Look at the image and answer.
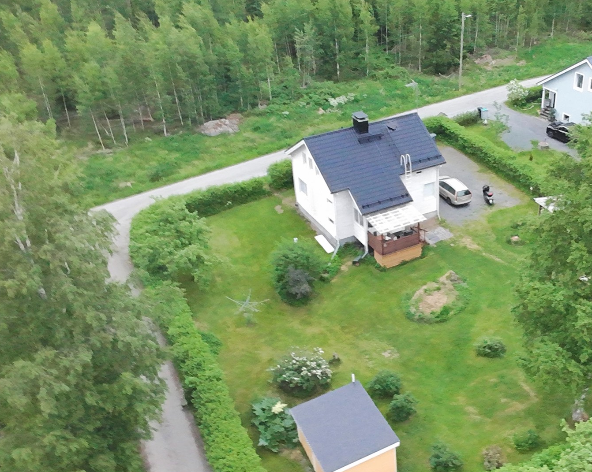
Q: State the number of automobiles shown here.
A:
2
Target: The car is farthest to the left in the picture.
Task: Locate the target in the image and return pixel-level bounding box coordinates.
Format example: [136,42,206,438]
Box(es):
[438,179,471,205]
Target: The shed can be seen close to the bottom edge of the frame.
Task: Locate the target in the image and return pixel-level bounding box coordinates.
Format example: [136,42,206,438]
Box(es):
[288,378,403,472]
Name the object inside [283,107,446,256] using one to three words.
house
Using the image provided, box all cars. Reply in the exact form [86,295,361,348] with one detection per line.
[542,122,583,143]
[438,179,471,205]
